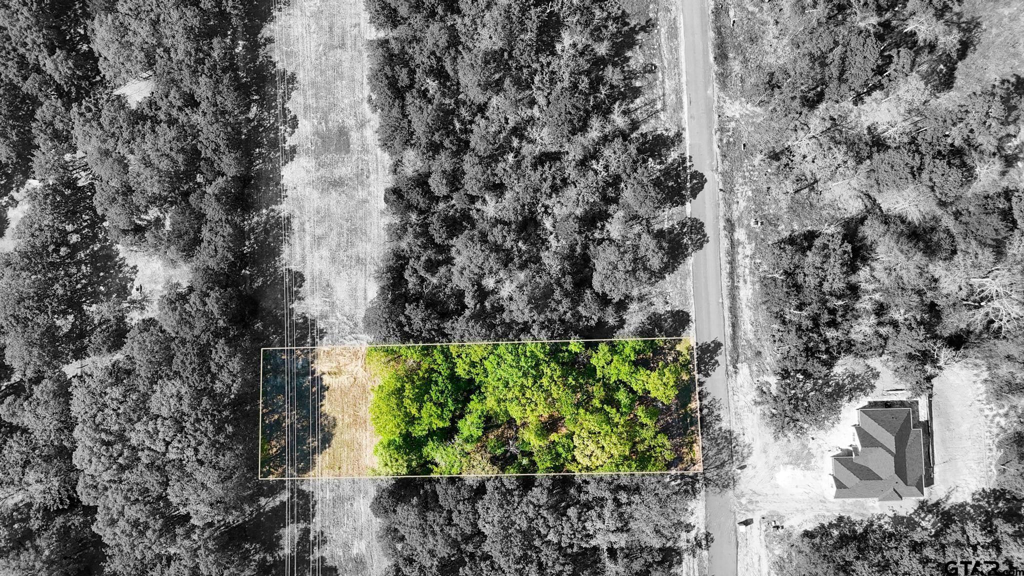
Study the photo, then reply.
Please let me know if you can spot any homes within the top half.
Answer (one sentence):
No, looking within the top half, there is no home.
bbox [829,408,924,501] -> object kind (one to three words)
house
